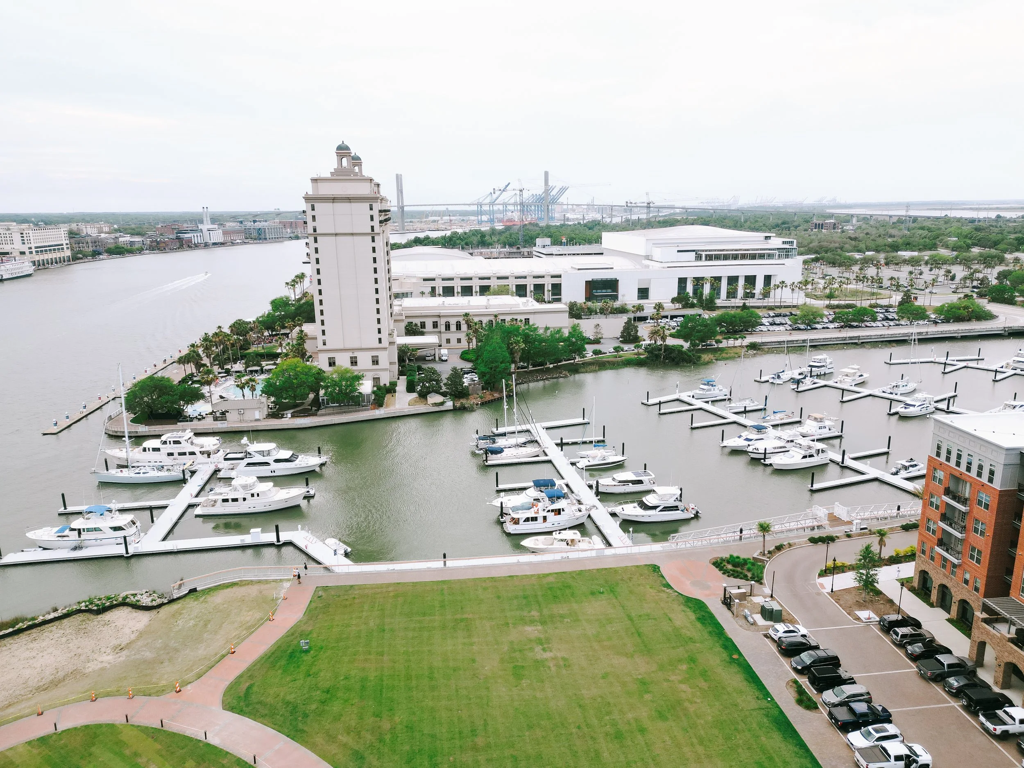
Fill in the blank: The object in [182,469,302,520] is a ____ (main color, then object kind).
white boat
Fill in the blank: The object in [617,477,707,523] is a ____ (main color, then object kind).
white boat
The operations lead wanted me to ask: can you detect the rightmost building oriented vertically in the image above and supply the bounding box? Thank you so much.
[913,412,1024,685]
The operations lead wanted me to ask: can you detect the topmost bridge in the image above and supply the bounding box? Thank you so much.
[108,171,1024,233]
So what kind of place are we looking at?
port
